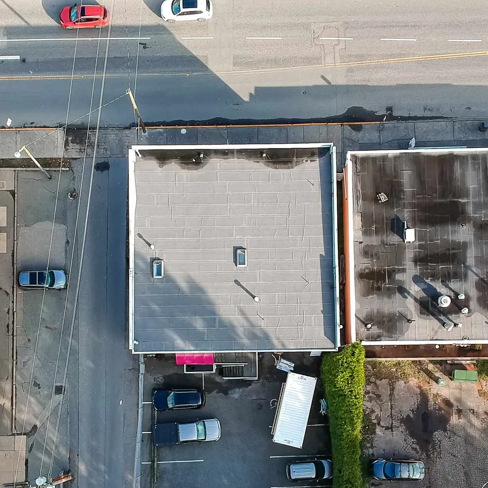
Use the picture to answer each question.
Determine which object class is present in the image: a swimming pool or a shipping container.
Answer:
shipping container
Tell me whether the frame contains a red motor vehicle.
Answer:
Yes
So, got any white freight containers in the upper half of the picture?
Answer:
No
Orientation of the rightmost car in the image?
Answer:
horizontally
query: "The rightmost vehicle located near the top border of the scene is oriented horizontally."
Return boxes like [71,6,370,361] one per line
[161,0,214,23]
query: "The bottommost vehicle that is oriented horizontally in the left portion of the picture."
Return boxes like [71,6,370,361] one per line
[154,418,222,446]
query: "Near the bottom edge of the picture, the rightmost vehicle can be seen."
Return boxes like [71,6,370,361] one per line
[371,456,425,483]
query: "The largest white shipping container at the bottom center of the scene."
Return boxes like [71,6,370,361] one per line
[272,372,317,449]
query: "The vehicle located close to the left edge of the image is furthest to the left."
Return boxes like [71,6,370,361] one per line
[17,266,68,292]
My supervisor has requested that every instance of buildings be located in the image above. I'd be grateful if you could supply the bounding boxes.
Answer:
[343,147,488,349]
[129,143,343,365]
